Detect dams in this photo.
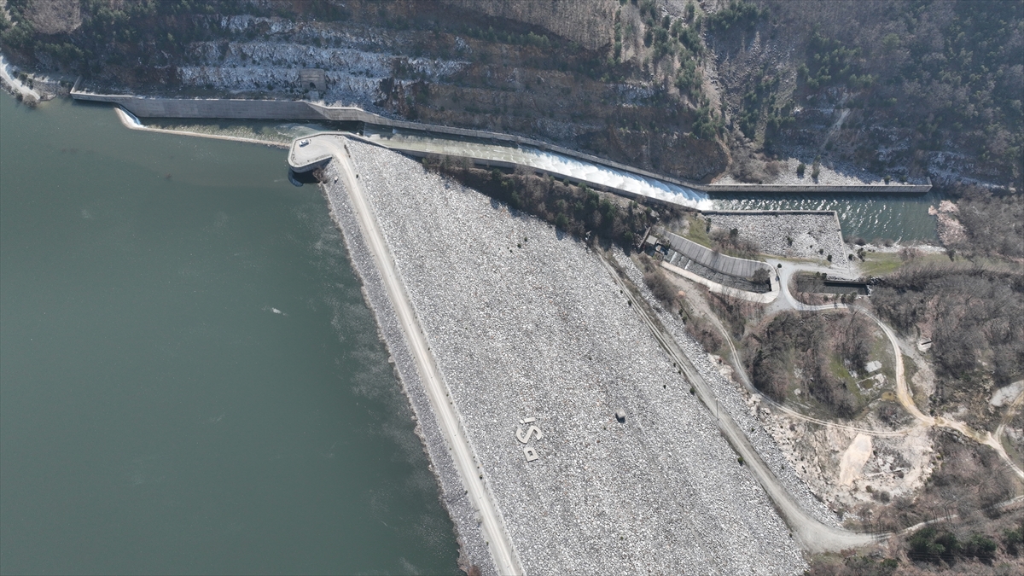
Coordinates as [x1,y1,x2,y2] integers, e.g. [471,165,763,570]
[321,136,820,576]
